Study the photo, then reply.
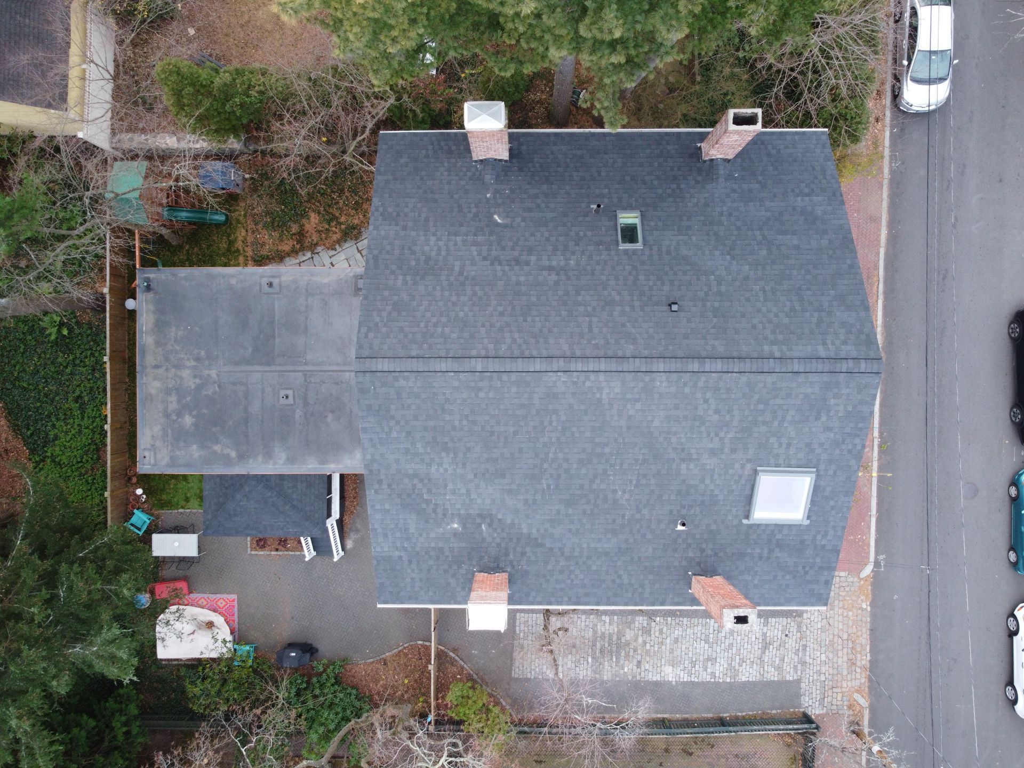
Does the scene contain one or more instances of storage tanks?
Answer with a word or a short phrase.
No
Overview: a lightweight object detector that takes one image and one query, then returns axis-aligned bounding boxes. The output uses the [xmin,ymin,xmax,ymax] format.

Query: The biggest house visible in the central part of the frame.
[354,104,883,632]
